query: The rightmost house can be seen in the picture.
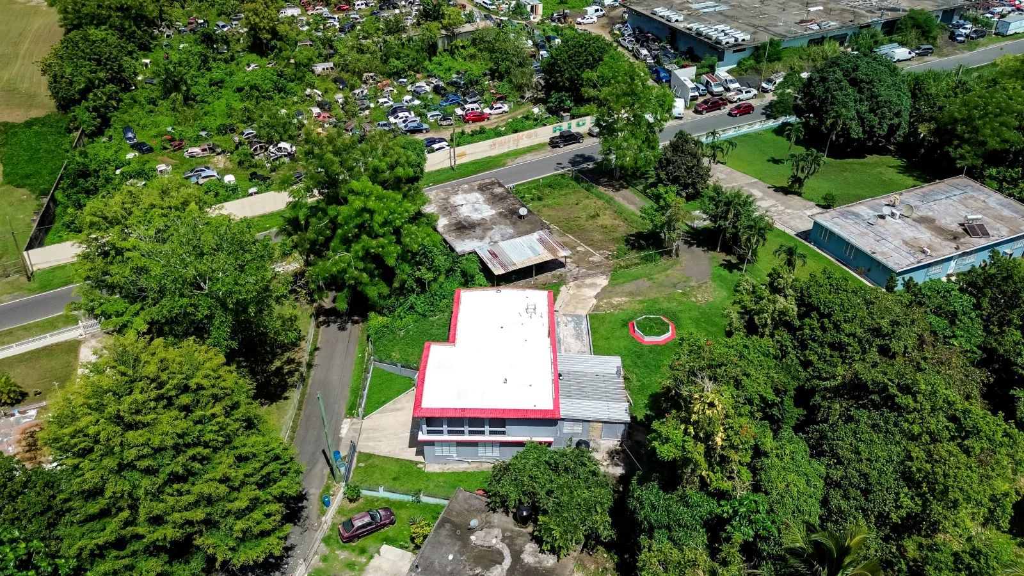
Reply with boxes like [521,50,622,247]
[809,175,1024,288]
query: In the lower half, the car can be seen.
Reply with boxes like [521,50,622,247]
[337,513,395,546]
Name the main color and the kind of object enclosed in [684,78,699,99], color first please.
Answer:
white vehicle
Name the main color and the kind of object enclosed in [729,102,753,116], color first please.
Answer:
red car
